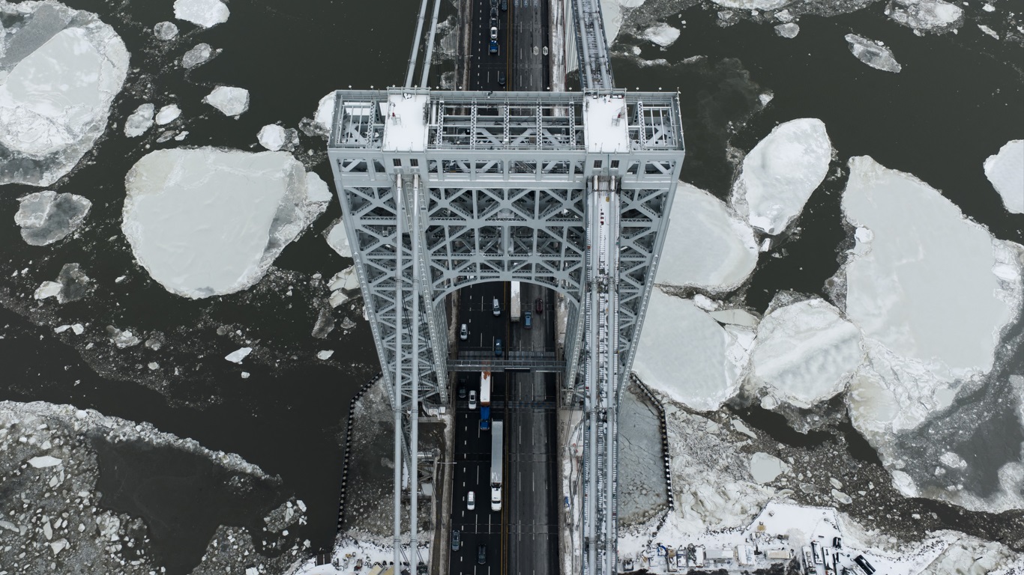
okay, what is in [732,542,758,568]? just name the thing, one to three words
shed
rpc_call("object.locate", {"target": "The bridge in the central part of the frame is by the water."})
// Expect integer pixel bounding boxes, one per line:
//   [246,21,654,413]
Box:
[325,0,687,575]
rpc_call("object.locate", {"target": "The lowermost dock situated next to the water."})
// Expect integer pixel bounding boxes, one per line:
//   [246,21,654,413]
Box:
[308,548,333,570]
